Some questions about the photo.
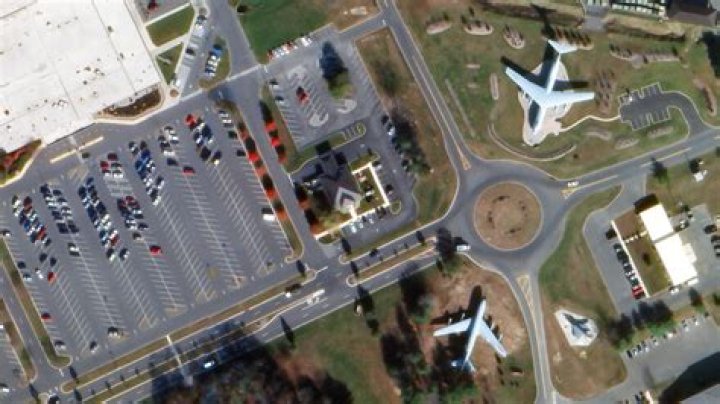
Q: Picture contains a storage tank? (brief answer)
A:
No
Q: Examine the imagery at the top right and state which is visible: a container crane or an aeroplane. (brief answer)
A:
aeroplane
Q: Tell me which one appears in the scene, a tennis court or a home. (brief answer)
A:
home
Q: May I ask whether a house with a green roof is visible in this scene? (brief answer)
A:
No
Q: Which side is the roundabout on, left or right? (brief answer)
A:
right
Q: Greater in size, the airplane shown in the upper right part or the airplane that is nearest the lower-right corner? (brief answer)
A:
the airplane shown in the upper right part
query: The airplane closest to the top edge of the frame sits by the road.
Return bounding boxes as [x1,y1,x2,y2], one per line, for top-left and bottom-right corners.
[507,37,598,138]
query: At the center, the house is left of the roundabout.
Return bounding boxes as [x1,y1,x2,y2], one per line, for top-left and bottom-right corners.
[316,150,361,213]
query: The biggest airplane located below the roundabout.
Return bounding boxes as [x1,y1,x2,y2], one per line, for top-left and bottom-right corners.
[434,300,508,374]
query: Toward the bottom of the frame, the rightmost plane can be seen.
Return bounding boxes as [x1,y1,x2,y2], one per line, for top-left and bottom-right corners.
[563,314,594,339]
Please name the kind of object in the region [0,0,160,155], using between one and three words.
building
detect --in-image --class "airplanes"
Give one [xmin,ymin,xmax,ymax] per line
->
[563,314,594,339]
[434,300,508,374]
[507,37,598,138]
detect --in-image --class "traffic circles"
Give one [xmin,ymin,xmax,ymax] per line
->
[453,162,562,271]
